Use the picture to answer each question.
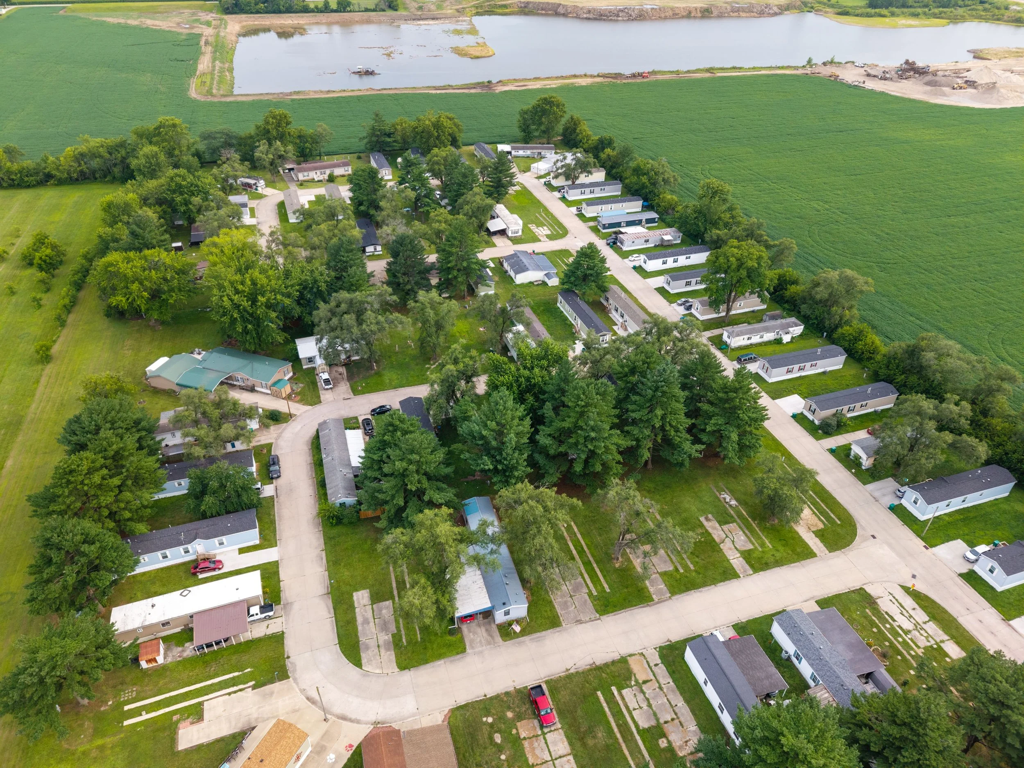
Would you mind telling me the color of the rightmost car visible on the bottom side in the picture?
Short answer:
white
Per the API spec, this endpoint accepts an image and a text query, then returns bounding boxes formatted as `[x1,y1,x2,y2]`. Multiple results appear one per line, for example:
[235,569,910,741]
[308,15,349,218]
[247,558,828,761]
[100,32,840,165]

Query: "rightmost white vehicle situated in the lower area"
[964,540,991,566]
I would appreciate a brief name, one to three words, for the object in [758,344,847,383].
house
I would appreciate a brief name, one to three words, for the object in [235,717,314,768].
shed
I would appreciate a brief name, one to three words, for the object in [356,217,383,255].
house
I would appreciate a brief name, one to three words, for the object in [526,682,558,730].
truck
